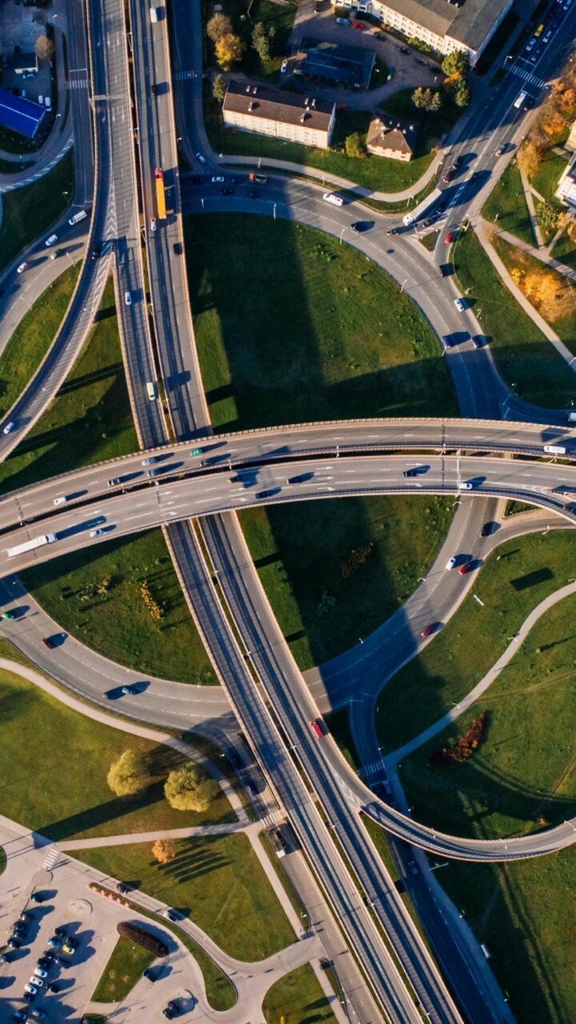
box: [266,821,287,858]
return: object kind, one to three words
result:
truck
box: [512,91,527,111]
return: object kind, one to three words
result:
vehicle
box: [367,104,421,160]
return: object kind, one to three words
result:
house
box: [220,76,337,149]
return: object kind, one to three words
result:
building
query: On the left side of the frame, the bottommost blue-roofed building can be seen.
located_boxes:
[0,80,43,137]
